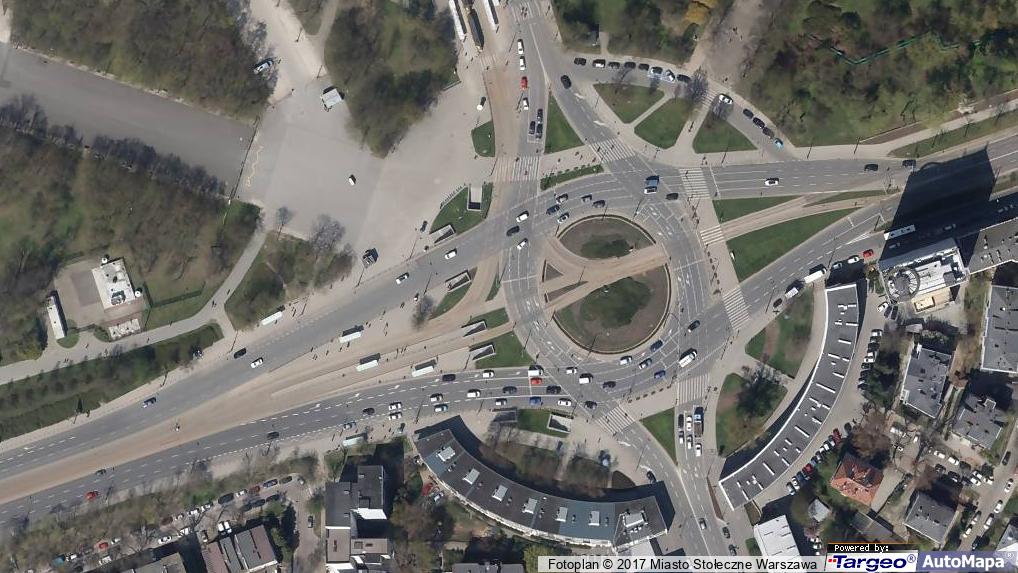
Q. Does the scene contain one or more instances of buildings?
Yes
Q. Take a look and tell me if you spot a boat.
No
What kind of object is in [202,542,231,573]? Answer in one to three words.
house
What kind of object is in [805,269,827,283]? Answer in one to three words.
vehicle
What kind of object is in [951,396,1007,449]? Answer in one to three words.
building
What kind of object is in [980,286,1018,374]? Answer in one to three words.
building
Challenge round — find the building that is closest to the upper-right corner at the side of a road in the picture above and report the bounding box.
[968,217,1018,276]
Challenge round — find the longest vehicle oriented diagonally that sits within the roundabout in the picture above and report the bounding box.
[678,351,698,366]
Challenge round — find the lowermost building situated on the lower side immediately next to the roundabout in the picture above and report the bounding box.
[417,430,667,546]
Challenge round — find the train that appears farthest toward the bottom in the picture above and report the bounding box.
[467,8,484,49]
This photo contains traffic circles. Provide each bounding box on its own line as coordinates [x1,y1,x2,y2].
[502,158,735,420]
